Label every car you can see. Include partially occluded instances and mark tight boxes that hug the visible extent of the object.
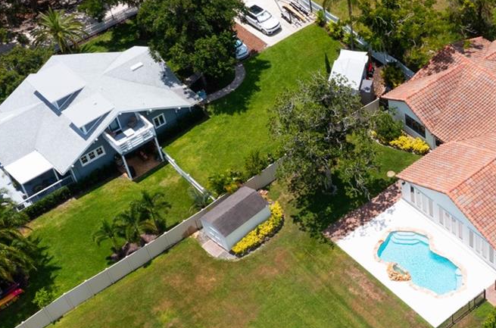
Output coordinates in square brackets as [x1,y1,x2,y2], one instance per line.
[223,33,249,64]
[243,0,283,32]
